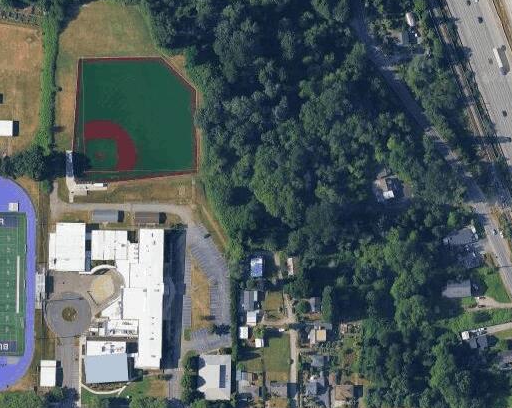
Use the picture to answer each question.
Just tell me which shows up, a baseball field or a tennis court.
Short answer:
baseball field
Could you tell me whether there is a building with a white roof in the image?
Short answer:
Yes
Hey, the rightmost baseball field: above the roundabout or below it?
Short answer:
above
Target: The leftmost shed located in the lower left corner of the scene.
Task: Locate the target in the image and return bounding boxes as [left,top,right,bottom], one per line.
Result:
[40,360,56,386]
